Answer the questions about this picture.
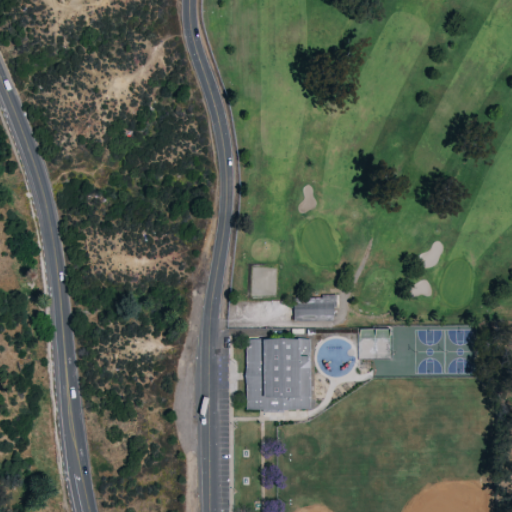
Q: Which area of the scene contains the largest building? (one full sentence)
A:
The largest building is located in the bottom region of the scene.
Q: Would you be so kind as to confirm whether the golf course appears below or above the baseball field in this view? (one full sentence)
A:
The golf course is located above the baseball field in this view.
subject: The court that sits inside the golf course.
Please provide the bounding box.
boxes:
[250,265,278,299]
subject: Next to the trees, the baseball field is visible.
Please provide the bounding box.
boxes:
[278,378,490,512]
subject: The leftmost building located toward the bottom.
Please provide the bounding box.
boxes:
[247,338,311,410]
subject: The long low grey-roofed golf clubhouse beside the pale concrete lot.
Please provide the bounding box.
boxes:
[294,295,340,321]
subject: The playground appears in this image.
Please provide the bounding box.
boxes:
[314,336,358,380]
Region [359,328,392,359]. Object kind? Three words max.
sports court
